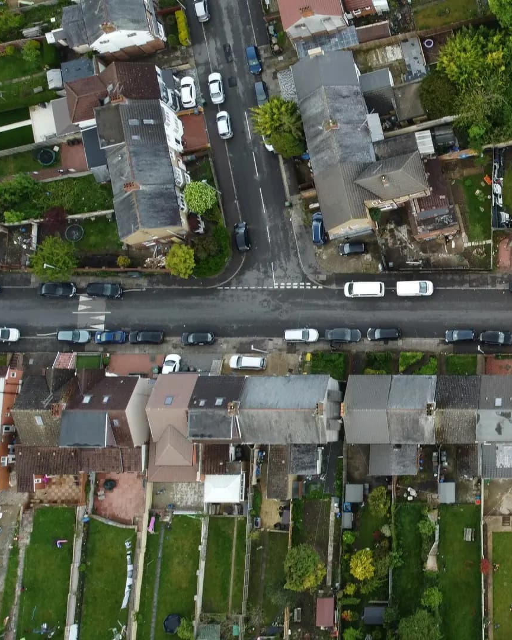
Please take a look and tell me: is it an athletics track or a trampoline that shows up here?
trampoline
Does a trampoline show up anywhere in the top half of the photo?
Yes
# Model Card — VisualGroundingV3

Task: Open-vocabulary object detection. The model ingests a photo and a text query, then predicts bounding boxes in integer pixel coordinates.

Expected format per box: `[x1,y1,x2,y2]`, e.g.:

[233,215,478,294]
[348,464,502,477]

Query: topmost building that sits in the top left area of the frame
[47,0,170,61]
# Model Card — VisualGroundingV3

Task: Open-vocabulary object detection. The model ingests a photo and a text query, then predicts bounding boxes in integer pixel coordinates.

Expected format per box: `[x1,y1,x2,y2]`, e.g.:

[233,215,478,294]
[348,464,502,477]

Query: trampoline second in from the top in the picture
[66,223,87,242]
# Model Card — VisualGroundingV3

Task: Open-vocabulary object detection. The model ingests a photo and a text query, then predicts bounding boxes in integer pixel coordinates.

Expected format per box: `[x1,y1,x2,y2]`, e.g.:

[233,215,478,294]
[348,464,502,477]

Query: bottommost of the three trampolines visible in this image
[163,613,182,632]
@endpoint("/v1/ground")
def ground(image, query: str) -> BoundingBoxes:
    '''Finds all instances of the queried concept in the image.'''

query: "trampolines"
[66,223,87,242]
[163,613,182,632]
[31,146,58,166]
